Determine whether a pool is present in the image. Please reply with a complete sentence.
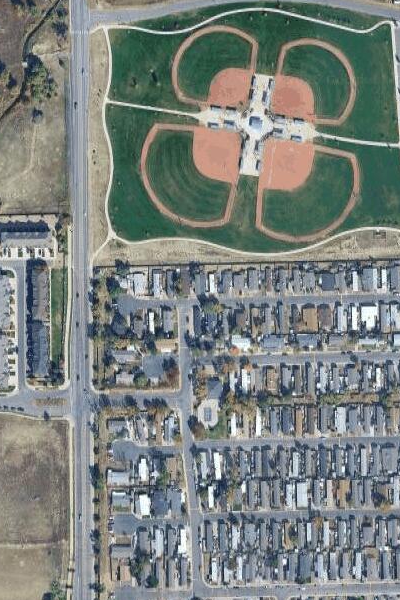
No, no pool is visible in the scene.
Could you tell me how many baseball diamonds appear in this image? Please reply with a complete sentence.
Altogether the scene contains 4 baseball diamonds.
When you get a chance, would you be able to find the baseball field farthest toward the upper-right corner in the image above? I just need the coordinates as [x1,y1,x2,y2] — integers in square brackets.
[268,37,356,125]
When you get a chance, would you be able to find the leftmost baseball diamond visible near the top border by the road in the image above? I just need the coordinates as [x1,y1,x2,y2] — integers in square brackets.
[171,22,259,113]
